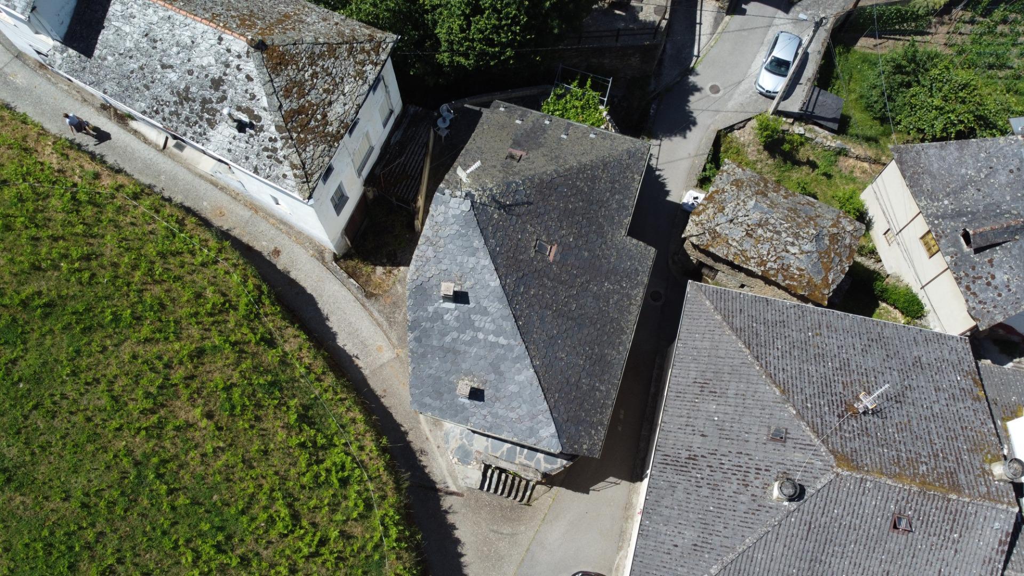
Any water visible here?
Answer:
No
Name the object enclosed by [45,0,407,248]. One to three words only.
house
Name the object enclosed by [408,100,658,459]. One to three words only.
house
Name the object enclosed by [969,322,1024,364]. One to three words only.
shed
